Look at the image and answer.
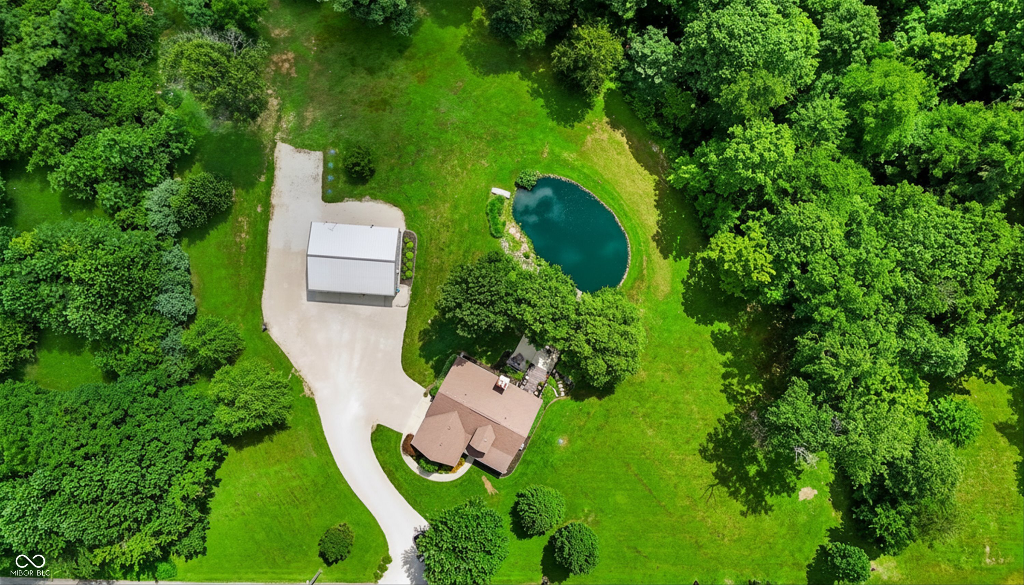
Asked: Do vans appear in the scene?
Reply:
No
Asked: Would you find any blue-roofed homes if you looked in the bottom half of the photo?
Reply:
No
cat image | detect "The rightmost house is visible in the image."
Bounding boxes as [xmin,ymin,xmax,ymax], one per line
[410,356,543,473]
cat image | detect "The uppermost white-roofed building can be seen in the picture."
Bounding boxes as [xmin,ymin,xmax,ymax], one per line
[306,221,401,297]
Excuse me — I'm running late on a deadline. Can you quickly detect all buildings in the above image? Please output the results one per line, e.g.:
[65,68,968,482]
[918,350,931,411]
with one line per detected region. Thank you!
[410,356,543,473]
[306,221,401,297]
